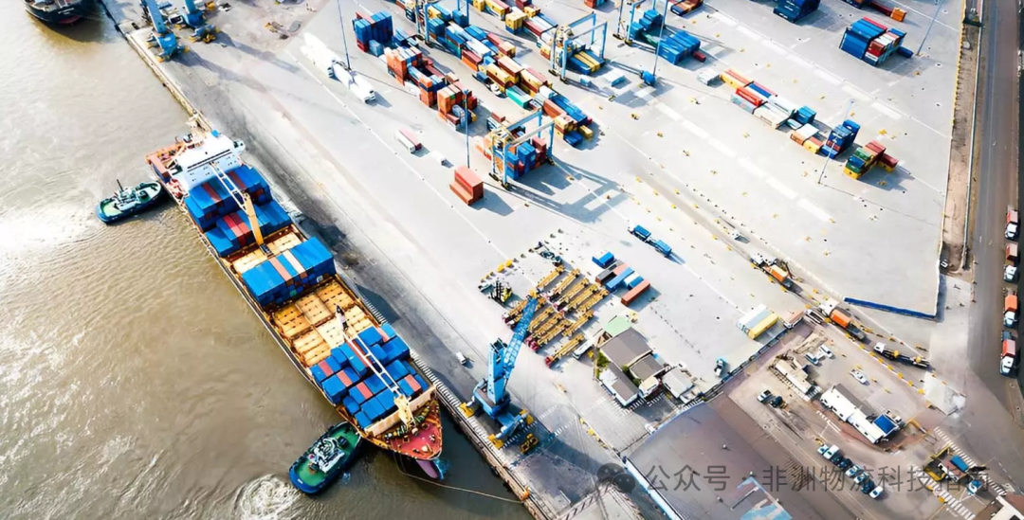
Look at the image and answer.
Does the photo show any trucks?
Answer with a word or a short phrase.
Yes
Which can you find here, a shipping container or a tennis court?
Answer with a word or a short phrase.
shipping container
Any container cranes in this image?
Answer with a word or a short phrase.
Yes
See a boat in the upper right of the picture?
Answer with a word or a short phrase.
No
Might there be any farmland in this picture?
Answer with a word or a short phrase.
No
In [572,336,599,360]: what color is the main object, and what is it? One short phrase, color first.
white bus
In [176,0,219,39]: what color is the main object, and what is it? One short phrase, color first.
blue crane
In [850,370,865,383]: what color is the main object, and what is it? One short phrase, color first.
white vehicle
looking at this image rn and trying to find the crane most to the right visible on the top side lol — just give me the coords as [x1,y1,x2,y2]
[613,0,671,46]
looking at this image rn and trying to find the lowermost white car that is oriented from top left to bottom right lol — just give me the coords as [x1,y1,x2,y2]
[884,409,900,423]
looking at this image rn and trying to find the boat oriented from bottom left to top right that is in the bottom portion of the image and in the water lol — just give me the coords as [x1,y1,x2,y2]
[283,424,369,501]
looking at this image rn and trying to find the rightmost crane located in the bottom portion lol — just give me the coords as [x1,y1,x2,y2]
[467,289,537,443]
